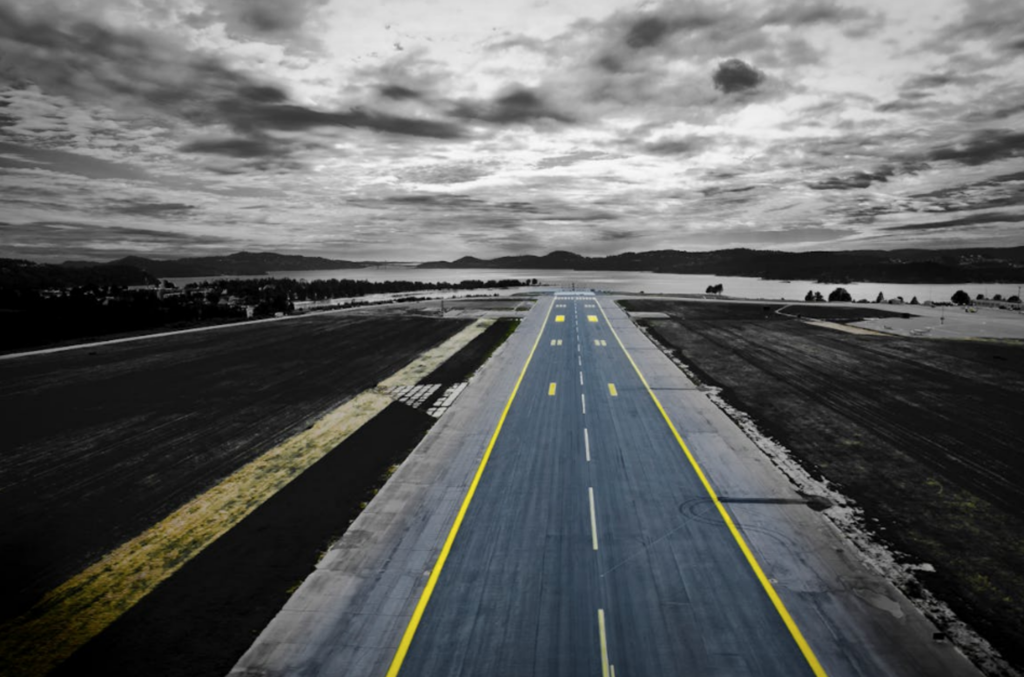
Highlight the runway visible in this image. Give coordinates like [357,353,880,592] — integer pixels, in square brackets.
[384,291,824,677]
